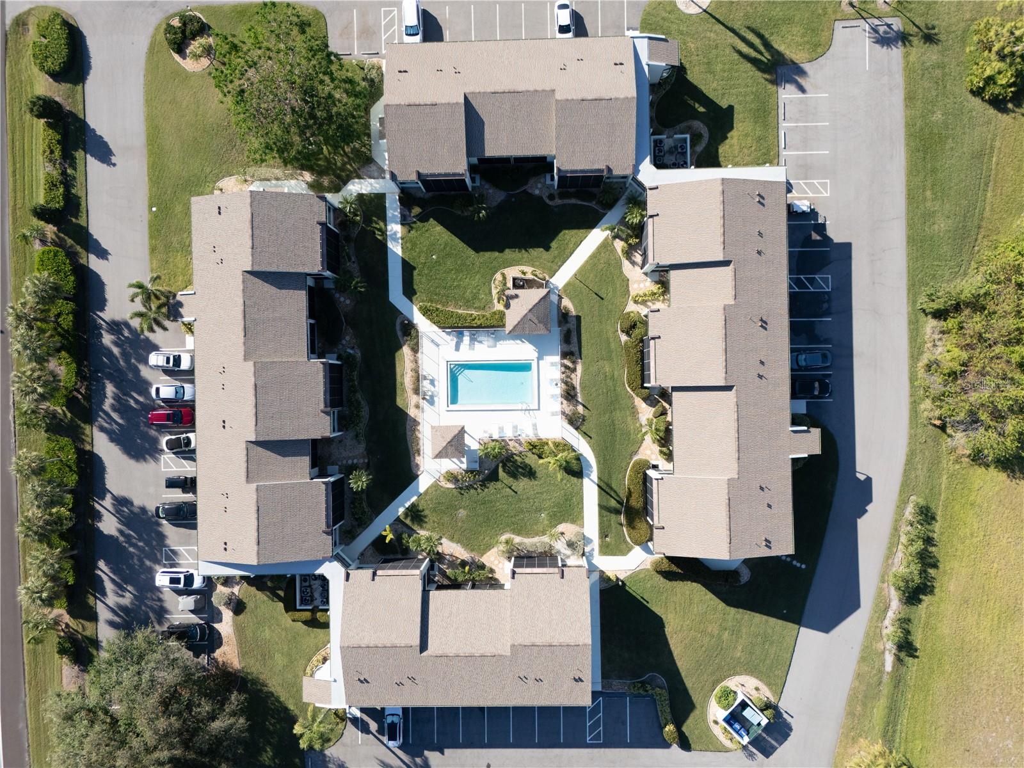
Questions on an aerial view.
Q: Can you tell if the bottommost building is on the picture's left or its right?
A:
right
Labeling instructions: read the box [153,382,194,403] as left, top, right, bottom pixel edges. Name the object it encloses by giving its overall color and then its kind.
white car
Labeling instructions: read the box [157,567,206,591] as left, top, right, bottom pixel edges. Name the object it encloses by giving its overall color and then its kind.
white car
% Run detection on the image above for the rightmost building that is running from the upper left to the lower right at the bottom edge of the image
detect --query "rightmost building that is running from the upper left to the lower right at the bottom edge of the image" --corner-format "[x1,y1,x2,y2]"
[712,683,785,759]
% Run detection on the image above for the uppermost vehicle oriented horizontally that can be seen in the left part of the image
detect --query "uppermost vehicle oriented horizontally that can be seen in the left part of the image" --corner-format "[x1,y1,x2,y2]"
[148,350,194,372]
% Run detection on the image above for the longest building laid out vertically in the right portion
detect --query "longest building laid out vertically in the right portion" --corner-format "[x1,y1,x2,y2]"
[637,176,795,560]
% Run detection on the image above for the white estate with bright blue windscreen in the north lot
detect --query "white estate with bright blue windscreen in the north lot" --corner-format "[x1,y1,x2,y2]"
[401,0,422,42]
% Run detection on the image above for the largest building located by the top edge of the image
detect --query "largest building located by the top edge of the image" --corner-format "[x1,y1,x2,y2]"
[384,35,635,196]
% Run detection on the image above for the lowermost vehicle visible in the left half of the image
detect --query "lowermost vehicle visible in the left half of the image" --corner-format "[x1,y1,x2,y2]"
[383,707,404,748]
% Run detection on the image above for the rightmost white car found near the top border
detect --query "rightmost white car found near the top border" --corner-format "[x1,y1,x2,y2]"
[554,0,575,37]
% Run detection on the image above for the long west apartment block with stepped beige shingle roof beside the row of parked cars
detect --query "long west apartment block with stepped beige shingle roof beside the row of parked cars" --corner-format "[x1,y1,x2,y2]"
[191,191,347,565]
